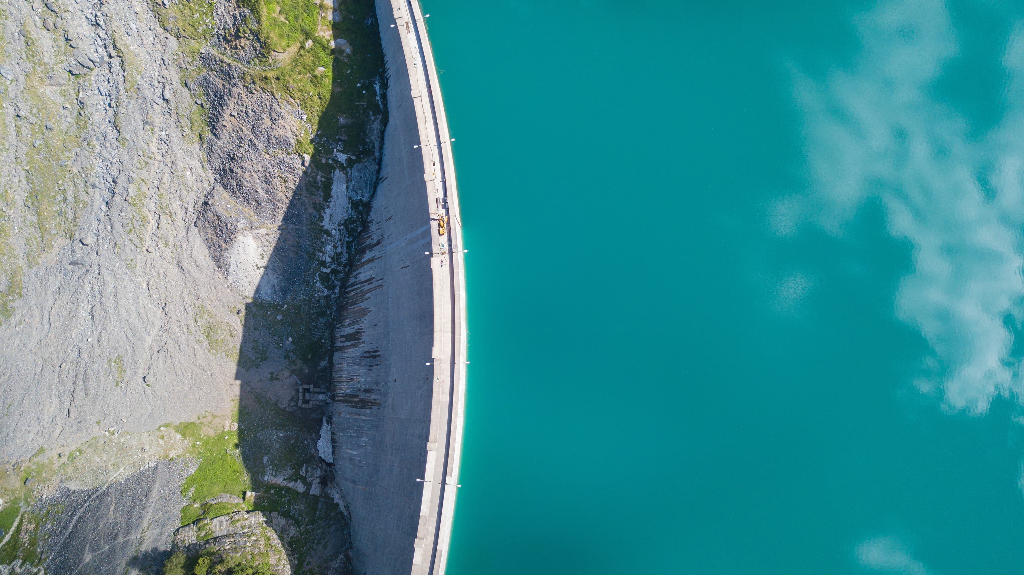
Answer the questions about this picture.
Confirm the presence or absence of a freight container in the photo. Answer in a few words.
No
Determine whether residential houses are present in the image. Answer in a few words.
No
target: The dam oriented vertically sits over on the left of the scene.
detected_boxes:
[328,0,465,575]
